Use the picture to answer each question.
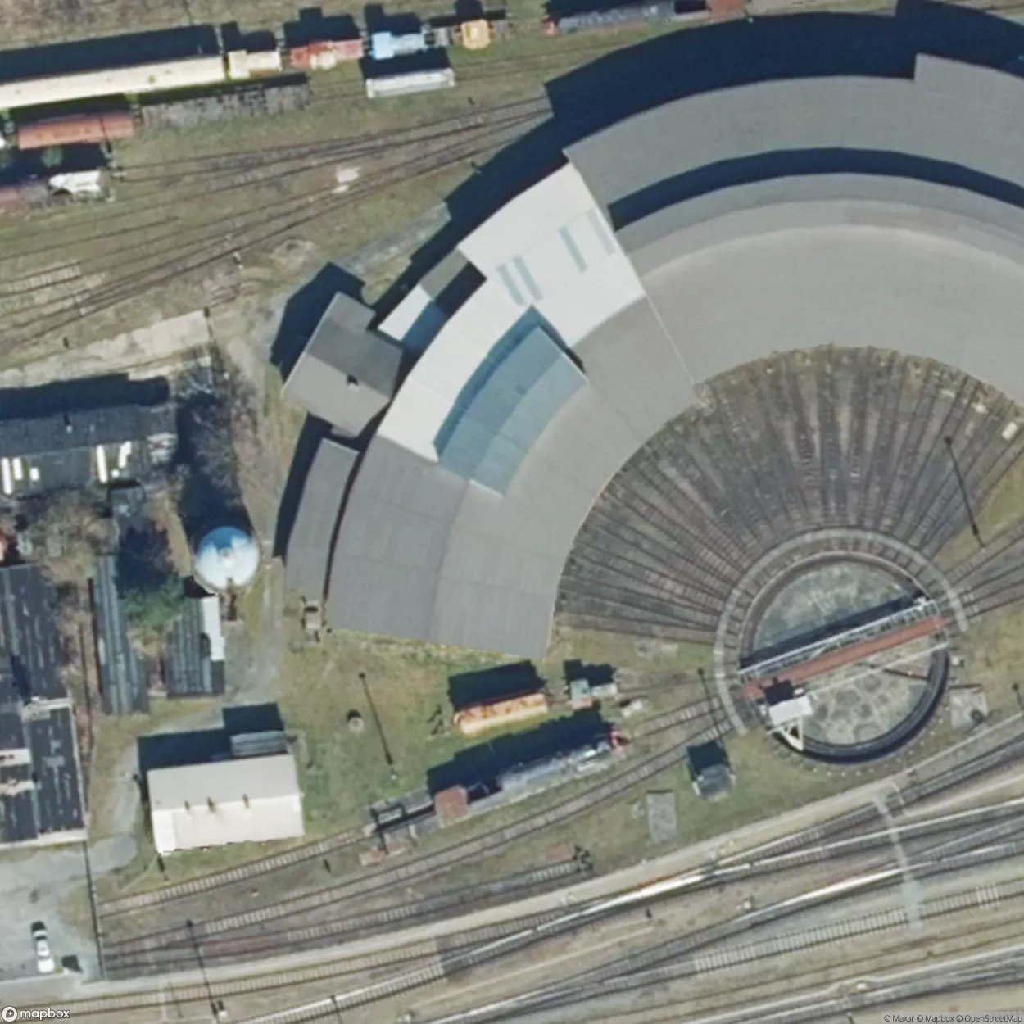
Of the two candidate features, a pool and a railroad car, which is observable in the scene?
railroad car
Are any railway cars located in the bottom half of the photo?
Yes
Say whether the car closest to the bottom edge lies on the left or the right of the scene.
left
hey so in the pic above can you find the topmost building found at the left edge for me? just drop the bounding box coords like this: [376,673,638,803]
[0,404,178,498]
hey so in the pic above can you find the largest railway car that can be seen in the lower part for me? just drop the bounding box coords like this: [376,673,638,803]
[479,727,633,801]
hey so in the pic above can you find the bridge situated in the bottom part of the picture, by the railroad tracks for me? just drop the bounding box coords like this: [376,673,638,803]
[738,597,951,751]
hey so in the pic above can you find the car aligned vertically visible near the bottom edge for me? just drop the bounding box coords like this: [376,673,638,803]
[33,930,53,974]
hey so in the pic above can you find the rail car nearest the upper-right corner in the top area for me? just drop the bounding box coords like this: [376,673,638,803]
[544,0,685,37]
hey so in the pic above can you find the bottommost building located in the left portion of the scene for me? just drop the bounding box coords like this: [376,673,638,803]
[147,732,303,854]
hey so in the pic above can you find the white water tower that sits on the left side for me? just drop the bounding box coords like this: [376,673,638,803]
[195,526,258,617]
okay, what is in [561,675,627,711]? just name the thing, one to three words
rail car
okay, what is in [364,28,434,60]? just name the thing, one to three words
rail car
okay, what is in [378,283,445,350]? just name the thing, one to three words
shed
